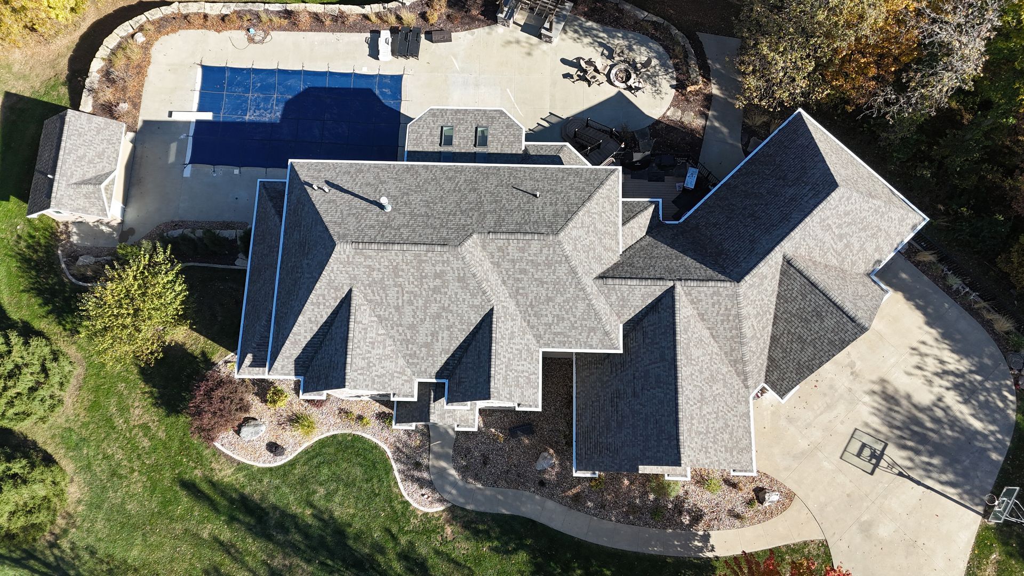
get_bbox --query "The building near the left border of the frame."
[28,110,135,224]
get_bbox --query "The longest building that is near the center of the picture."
[236,108,929,482]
